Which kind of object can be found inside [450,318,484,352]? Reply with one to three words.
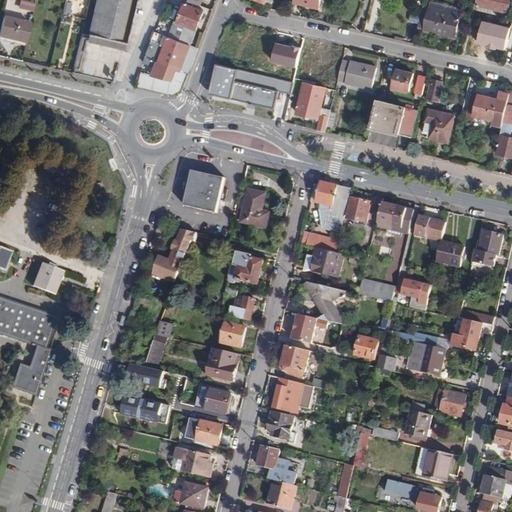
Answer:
house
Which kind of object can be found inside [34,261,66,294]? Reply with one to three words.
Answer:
building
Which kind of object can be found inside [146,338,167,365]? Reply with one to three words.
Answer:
shed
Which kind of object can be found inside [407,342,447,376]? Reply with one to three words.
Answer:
house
